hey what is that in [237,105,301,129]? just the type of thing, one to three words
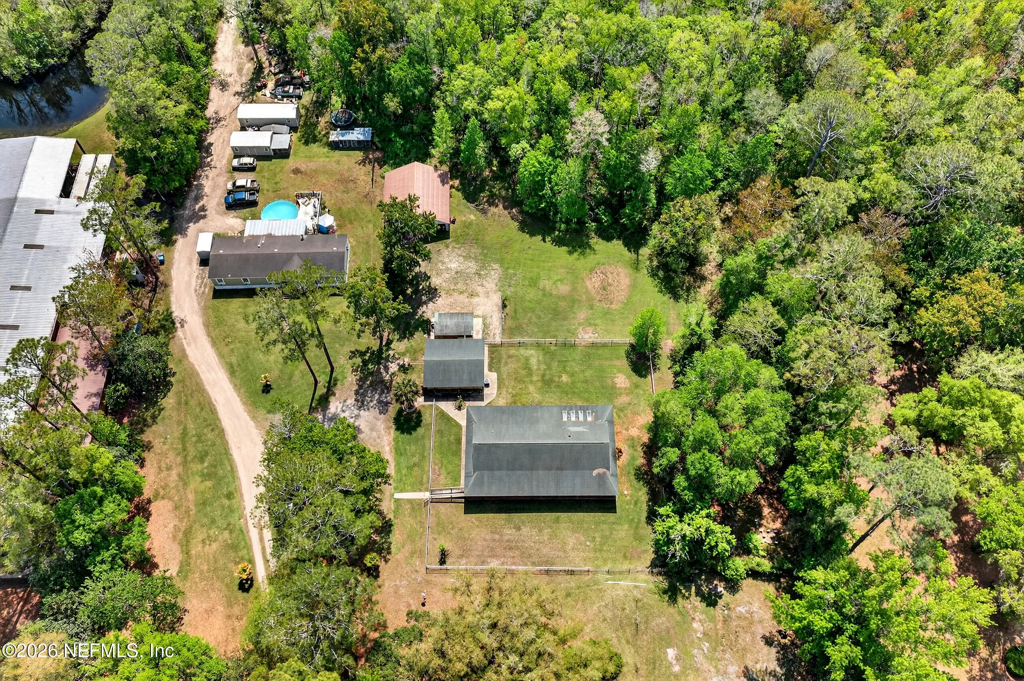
shed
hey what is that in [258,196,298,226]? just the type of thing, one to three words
swimming pool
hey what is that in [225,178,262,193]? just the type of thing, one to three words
vehicle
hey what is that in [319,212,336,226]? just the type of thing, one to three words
umbrella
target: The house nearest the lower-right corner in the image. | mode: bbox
[464,406,618,500]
